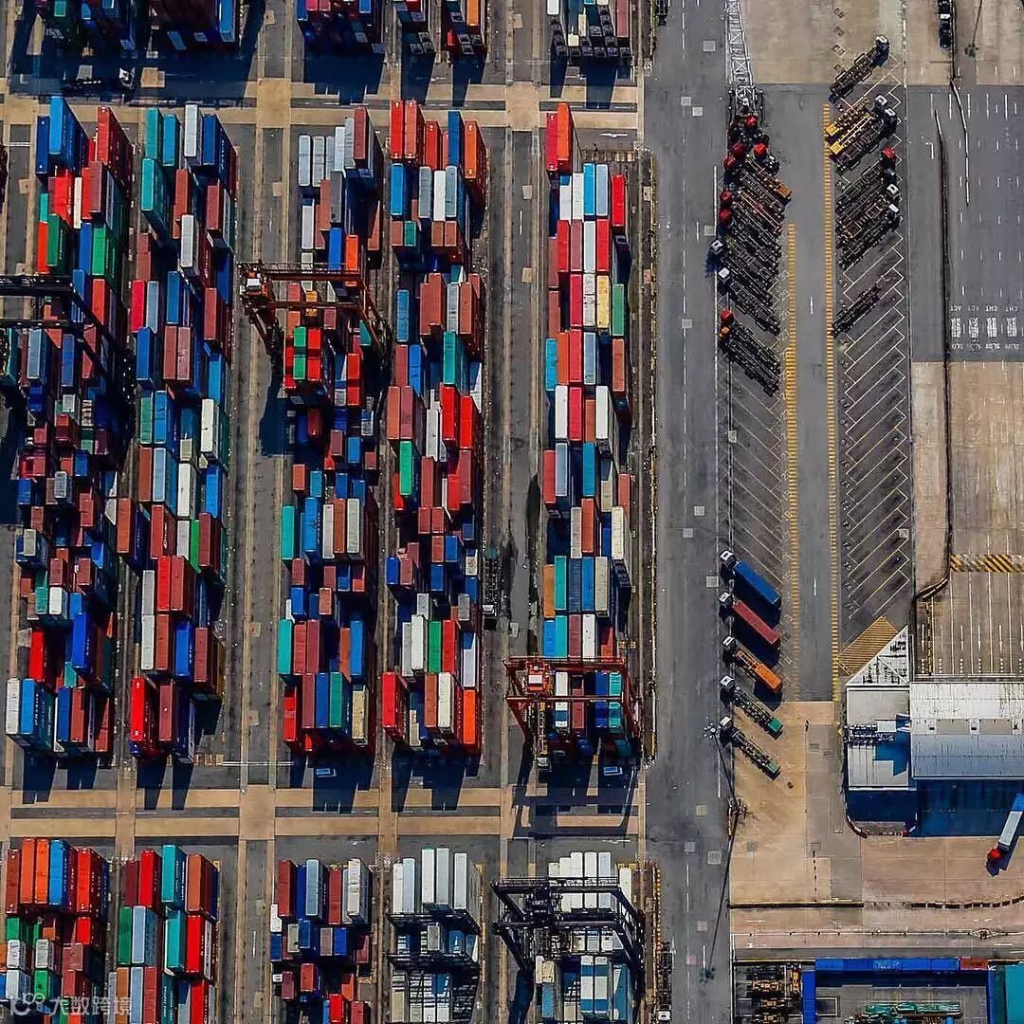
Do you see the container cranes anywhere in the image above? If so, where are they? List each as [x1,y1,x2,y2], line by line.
[501,652,646,756]
[0,277,129,407]
[489,880,642,967]
[236,267,396,385]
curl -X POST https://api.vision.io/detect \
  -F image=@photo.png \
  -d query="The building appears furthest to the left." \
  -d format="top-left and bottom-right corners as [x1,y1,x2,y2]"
[847,691,911,798]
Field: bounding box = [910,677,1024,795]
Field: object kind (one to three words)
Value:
shed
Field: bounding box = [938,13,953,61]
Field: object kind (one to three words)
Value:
vehicle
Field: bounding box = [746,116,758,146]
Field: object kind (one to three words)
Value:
vehicle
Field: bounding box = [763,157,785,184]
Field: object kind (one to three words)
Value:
truck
